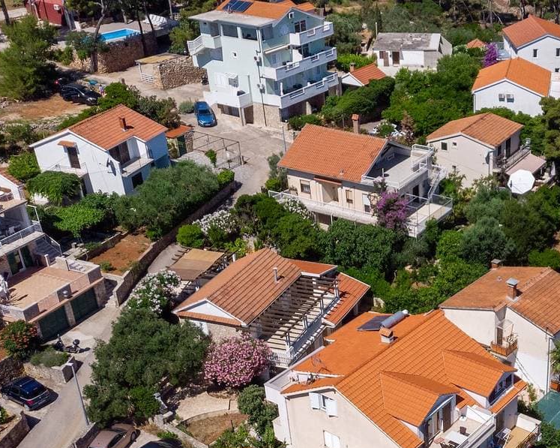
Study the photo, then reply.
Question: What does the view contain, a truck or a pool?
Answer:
pool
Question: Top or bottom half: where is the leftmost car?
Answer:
bottom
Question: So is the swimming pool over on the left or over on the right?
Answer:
left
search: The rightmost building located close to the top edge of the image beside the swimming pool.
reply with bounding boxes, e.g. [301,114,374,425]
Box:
[184,0,338,128]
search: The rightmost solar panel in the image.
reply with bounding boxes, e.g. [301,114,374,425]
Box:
[358,315,392,330]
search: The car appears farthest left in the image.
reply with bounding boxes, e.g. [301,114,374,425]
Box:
[0,376,48,408]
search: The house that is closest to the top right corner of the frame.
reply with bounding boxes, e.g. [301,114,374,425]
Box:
[502,16,560,89]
